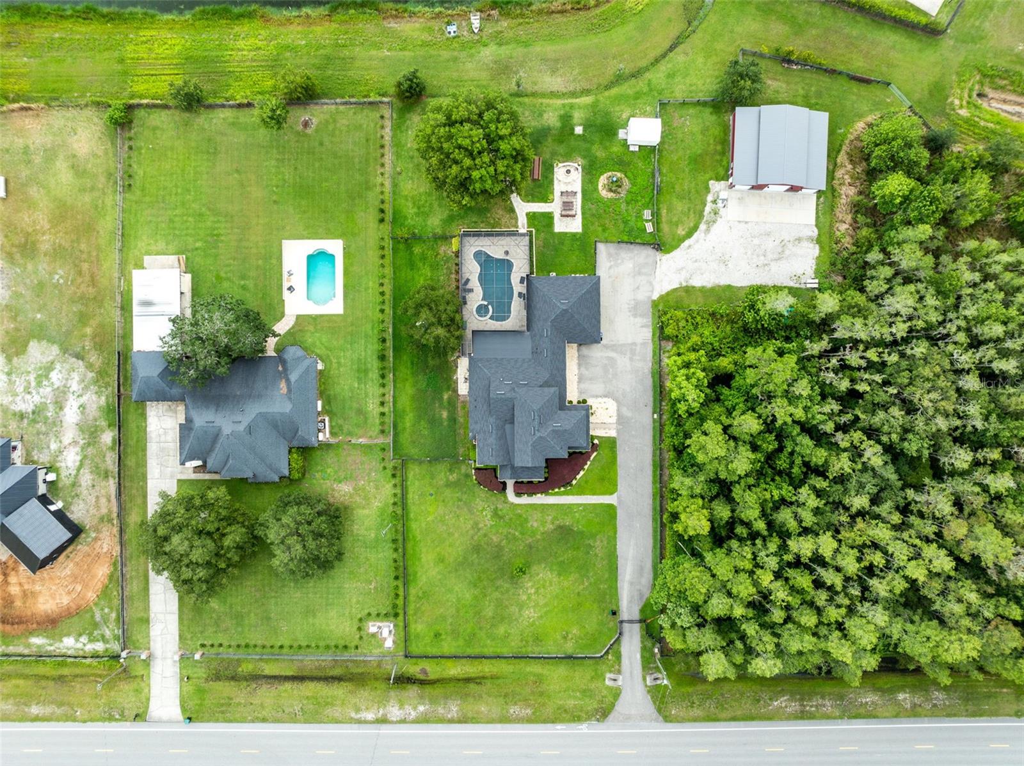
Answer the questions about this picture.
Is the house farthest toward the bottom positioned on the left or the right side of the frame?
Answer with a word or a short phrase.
left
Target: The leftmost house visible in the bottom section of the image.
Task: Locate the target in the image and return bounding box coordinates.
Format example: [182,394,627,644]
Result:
[0,438,84,575]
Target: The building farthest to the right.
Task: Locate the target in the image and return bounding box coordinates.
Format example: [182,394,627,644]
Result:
[725,104,829,194]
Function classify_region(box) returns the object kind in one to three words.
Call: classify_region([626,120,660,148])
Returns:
shed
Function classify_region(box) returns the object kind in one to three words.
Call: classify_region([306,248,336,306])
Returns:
swimming pool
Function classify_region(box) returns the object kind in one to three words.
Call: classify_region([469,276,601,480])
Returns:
house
